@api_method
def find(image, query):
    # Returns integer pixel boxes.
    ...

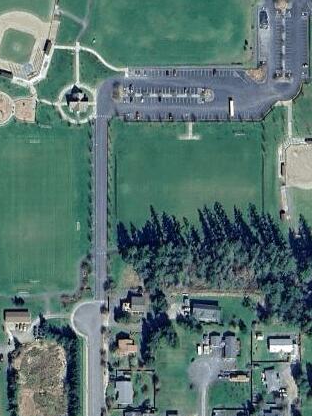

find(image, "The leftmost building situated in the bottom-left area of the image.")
[4,311,29,323]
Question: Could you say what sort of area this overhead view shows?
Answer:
sports ground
